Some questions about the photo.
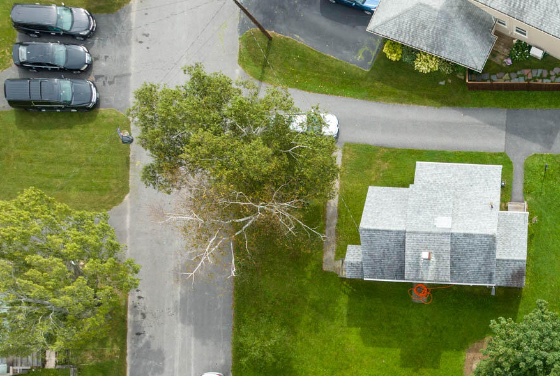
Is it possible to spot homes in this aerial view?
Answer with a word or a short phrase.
Yes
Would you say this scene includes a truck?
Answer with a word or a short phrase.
No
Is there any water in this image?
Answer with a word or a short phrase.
No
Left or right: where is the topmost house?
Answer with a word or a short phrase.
right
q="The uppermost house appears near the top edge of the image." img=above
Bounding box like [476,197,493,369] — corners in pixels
[366,0,560,80]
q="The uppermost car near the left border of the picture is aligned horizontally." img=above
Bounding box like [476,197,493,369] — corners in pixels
[7,4,97,44]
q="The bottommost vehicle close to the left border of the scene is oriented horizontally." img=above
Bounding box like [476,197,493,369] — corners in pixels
[0,75,99,114]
